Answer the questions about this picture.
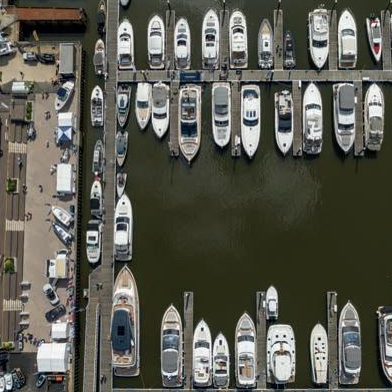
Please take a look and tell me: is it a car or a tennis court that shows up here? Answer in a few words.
car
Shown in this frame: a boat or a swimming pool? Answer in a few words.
boat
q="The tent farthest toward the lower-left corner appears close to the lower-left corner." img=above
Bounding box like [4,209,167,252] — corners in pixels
[37,341,69,371]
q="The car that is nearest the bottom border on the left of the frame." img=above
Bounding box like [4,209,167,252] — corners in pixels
[45,303,68,321]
